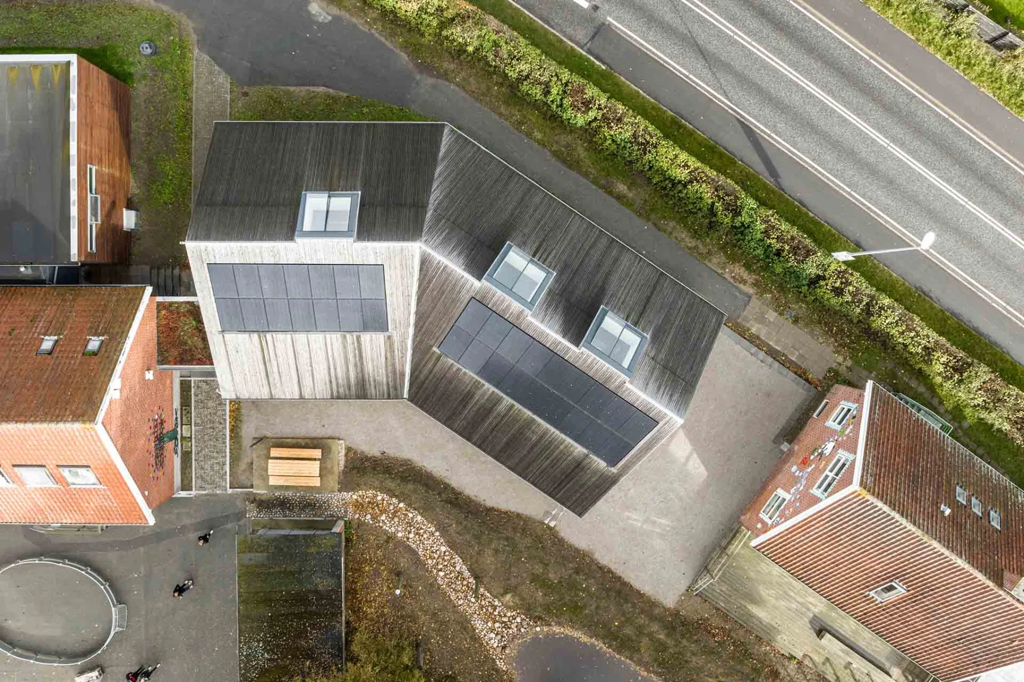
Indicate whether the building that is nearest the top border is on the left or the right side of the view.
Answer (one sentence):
The building that is nearest the top border appears in the left half of the scene.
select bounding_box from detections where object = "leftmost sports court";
[0,555,120,666]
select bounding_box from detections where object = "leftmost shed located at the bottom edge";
[237,516,348,682]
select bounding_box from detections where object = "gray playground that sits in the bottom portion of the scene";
[0,493,249,682]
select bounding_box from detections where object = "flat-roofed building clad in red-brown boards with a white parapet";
[0,54,132,267]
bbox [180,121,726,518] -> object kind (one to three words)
building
